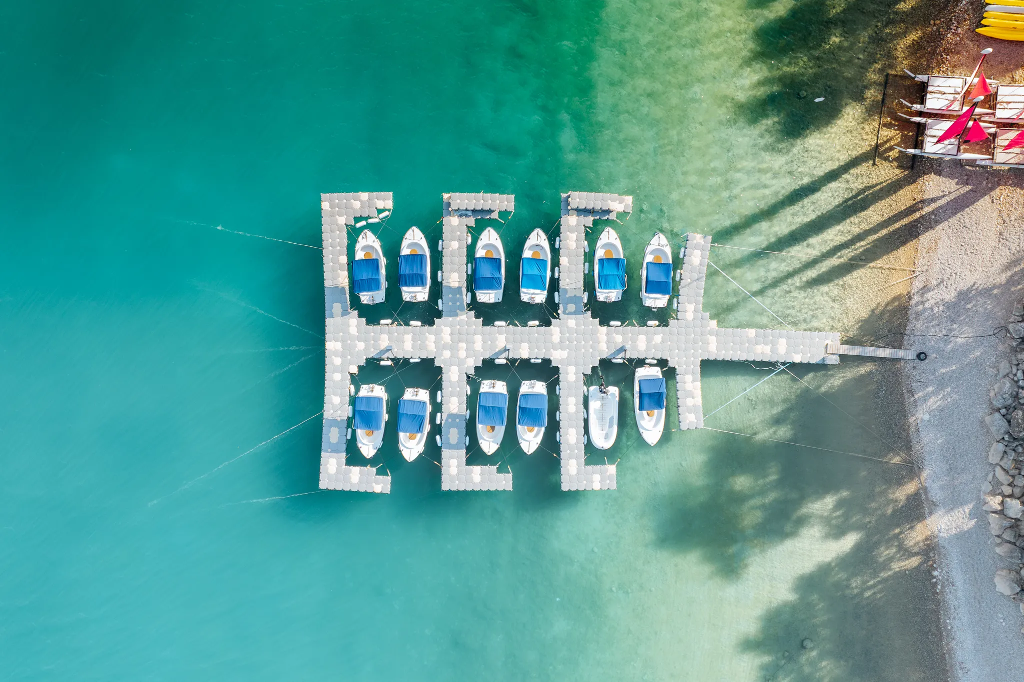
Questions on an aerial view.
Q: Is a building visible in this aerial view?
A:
No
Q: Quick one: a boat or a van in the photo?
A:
boat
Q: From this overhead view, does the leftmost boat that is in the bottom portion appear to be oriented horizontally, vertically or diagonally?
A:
vertically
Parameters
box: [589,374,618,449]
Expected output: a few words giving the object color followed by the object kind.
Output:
white boat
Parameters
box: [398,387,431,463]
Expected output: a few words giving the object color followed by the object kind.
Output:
white boat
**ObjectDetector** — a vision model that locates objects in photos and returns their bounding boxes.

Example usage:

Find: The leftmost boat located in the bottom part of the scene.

[355,383,388,459]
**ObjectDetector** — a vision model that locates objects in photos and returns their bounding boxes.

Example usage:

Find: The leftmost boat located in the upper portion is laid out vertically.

[353,228,387,305]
